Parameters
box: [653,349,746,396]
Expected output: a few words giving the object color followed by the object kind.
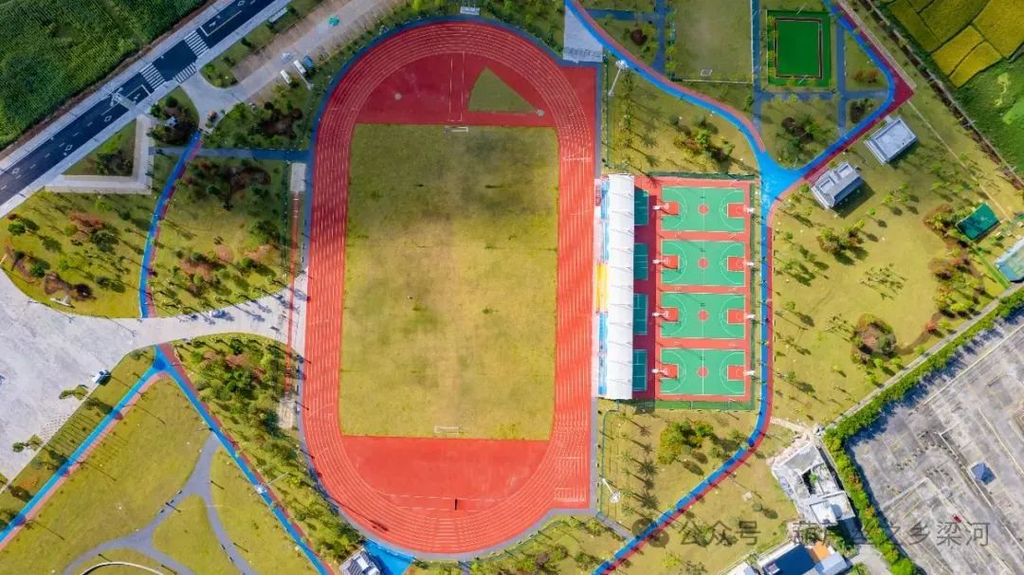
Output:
green basketball court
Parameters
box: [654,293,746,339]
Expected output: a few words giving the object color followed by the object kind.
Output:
green basketball court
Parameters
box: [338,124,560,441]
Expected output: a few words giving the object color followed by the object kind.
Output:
yellow soccer field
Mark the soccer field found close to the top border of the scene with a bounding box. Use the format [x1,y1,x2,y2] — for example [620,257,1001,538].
[674,0,753,83]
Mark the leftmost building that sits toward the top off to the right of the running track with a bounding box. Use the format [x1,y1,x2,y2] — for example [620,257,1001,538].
[809,163,858,209]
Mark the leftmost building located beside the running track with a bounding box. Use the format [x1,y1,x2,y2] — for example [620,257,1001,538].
[339,545,382,575]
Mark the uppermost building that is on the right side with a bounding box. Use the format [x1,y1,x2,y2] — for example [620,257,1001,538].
[864,118,916,165]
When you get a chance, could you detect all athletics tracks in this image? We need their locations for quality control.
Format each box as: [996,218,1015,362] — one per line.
[303,22,595,558]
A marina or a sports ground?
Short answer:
sports ground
